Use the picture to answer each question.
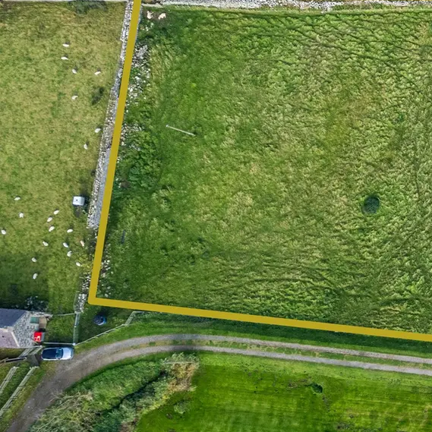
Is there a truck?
No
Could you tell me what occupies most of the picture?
grass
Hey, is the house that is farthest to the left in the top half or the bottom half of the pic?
bottom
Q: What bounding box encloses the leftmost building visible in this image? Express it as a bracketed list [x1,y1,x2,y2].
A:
[0,303,37,344]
